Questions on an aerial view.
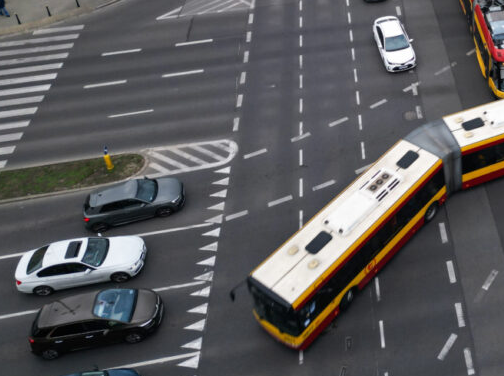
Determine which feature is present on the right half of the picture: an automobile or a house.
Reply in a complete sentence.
There is an automobile on the right half of the picture.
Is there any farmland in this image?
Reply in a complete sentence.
No, the picture contains no farmland.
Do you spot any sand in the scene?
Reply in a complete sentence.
No, no sand is visible.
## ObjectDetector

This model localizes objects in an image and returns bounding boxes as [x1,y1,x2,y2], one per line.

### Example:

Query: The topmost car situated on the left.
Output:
[84,175,186,229]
